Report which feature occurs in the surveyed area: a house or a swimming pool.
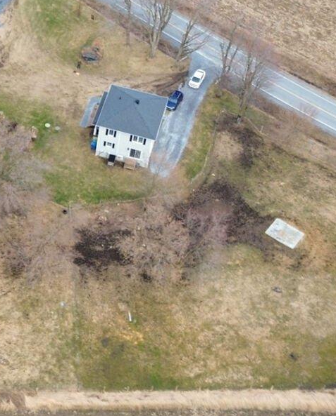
house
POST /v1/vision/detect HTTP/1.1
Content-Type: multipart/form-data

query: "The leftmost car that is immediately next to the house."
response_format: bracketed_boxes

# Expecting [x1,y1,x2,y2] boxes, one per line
[167,89,183,113]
